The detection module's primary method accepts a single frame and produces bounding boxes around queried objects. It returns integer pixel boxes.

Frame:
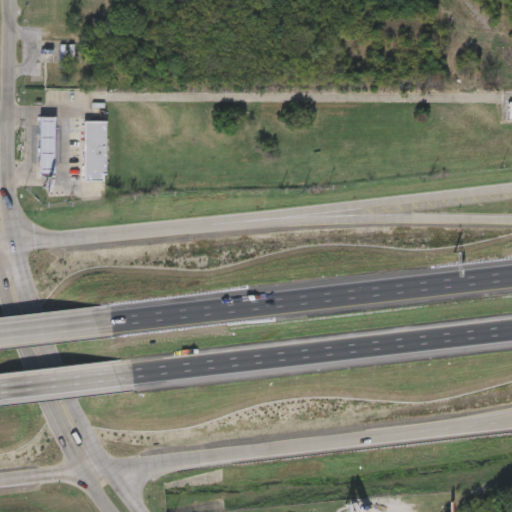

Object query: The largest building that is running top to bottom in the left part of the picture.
[84,120,108,181]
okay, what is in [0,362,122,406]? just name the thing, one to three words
bridge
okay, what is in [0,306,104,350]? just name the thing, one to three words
bridge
